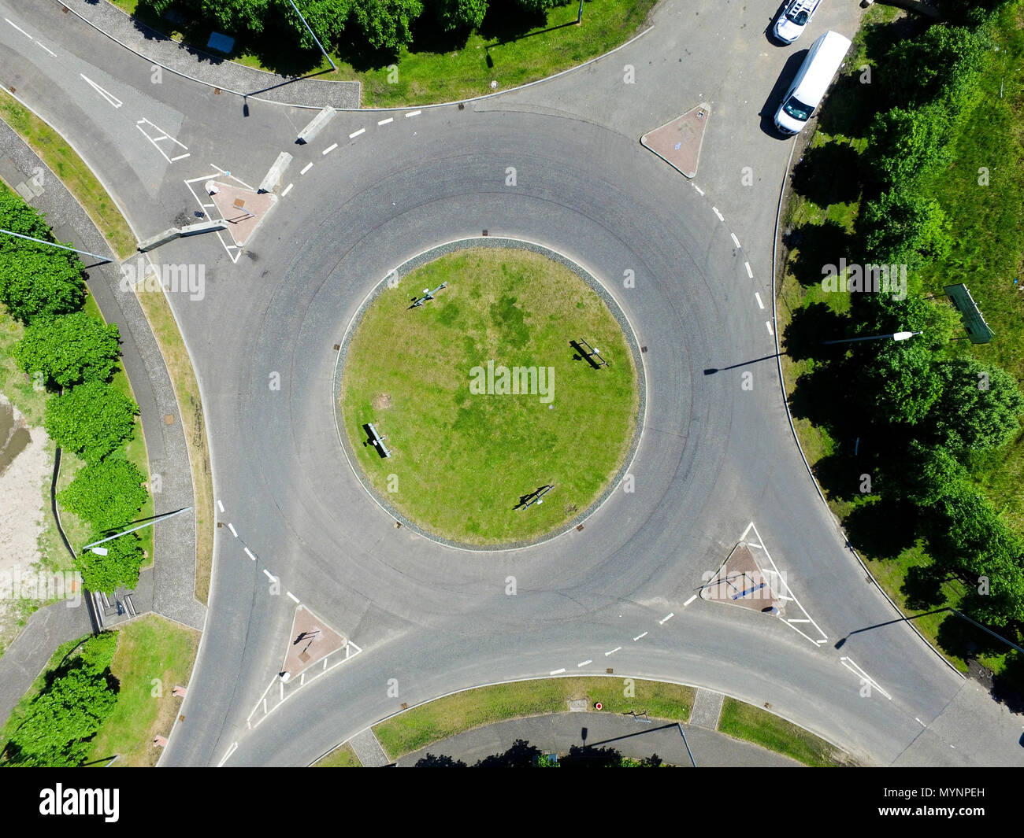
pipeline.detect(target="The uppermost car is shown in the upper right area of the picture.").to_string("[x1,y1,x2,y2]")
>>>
[775,0,825,46]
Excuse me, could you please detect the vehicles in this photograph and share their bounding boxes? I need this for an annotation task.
[775,33,850,136]
[775,0,825,46]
